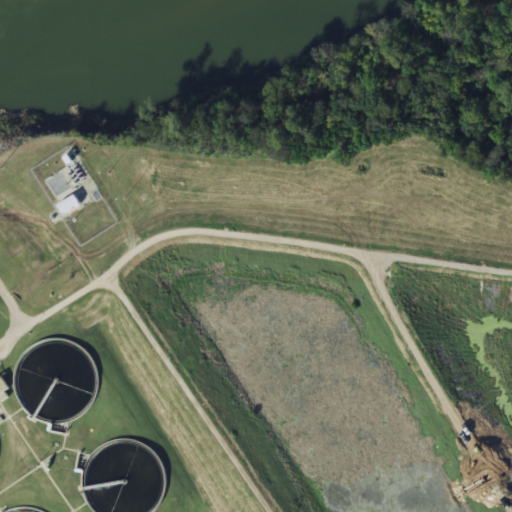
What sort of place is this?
industrial area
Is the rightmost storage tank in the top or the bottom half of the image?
bottom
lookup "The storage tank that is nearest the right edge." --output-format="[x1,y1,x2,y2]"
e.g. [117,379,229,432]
[76,438,167,512]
